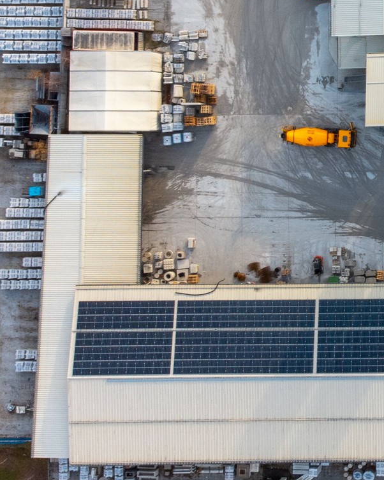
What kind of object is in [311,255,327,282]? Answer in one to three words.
work vehicle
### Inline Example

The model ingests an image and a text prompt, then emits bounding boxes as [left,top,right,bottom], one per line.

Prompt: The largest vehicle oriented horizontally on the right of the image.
[278,126,362,151]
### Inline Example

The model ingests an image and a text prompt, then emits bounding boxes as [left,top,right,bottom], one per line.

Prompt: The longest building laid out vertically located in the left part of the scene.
[31,135,145,457]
